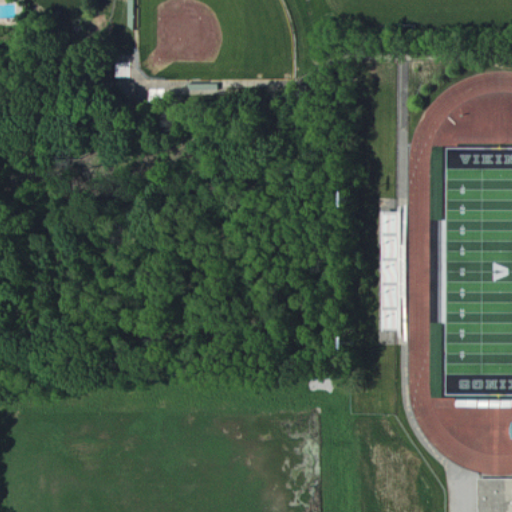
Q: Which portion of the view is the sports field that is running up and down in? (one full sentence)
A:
The sports field that is running up and down sits in the right section of the image.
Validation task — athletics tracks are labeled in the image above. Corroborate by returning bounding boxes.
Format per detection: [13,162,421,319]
[408,70,512,476]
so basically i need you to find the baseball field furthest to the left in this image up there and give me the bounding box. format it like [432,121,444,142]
[138,0,293,80]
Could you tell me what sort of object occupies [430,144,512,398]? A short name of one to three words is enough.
sports field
